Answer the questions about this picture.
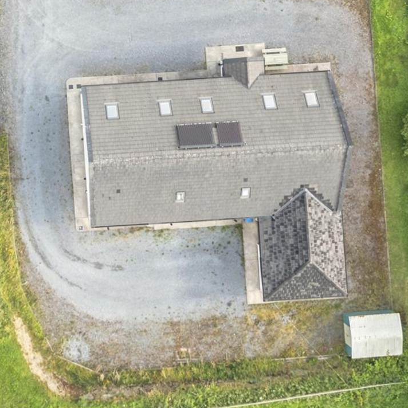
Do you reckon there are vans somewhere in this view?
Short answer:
No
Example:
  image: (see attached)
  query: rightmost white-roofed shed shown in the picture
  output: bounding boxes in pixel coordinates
[341,309,405,358]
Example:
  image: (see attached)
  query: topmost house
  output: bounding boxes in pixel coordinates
[78,57,352,304]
